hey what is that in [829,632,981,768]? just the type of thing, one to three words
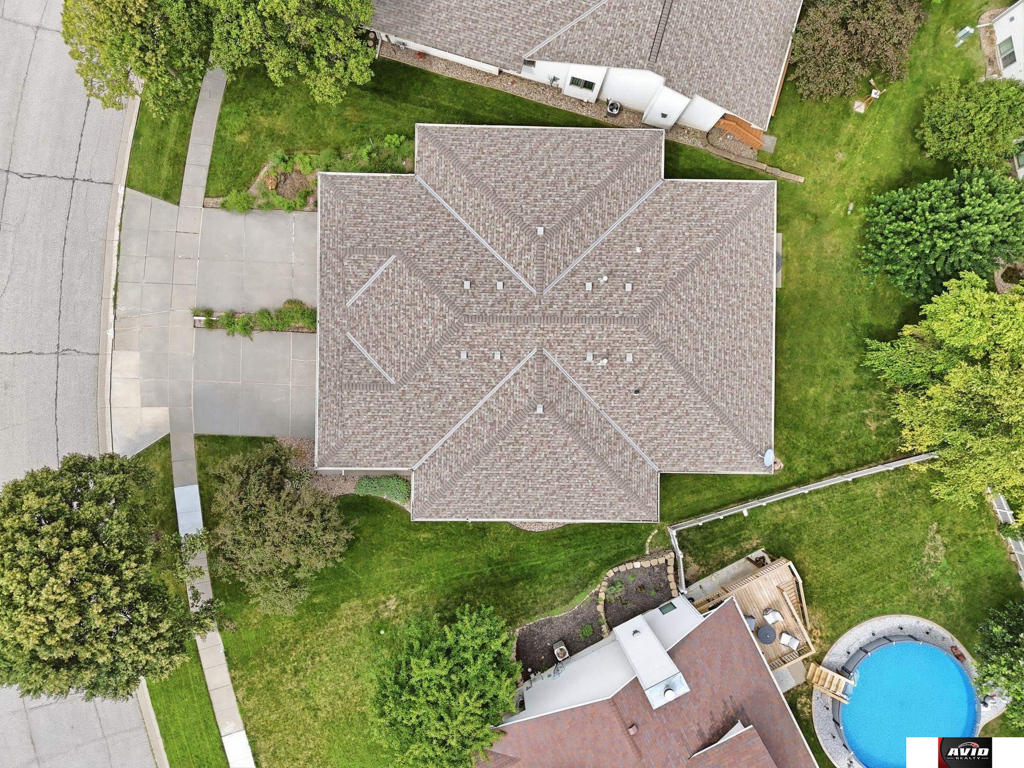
swimming pool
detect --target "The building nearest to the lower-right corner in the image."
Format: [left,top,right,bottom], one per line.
[439,595,833,768]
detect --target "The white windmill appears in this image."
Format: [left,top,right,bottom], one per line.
[854,77,890,113]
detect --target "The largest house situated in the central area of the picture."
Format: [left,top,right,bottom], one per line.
[312,123,780,526]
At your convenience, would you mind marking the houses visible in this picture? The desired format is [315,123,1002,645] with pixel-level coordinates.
[976,0,1024,83]
[439,595,833,768]
[357,0,803,132]
[312,123,780,526]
